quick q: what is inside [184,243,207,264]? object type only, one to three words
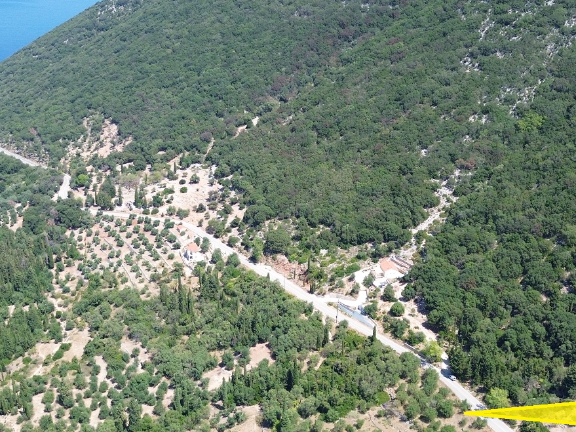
house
